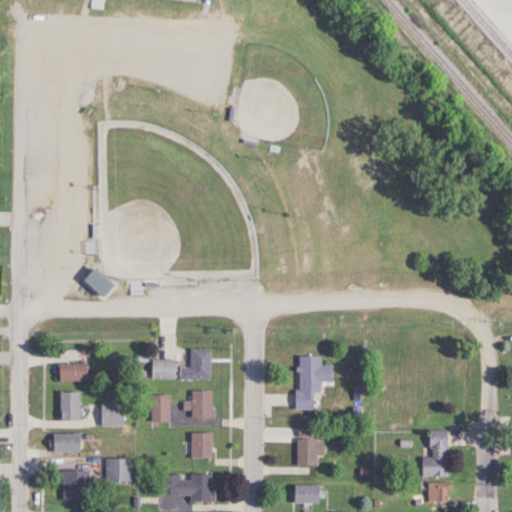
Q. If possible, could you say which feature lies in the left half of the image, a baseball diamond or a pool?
baseball diamond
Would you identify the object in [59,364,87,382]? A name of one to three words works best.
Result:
house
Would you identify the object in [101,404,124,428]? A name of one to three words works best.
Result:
building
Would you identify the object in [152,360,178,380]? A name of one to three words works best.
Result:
building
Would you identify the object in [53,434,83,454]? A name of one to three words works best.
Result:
house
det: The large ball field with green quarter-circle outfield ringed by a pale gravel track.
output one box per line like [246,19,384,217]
[97,120,256,279]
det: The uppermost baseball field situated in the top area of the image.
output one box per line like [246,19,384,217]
[230,44,330,152]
